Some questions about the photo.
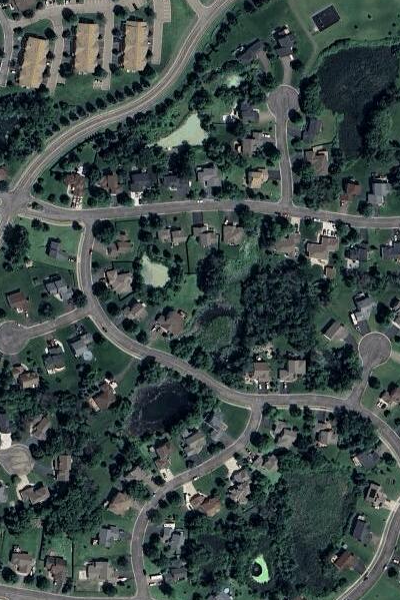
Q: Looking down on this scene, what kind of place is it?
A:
residential area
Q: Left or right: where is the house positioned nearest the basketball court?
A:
right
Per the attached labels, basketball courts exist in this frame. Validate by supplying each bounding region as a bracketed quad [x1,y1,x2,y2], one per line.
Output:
[311,4,340,32]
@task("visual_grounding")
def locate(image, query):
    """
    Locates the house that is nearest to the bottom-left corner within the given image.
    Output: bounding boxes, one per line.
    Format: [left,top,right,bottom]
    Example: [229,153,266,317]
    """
[9,550,33,574]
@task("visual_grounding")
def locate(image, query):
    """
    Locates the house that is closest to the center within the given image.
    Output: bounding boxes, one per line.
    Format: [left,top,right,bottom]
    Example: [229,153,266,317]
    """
[156,308,186,334]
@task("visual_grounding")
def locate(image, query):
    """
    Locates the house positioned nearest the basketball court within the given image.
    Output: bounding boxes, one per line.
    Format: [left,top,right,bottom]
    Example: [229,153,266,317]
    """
[272,26,293,54]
